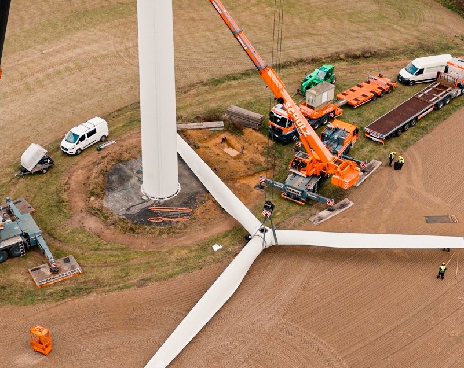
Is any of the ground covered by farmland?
Yes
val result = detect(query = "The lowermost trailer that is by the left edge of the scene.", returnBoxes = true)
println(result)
[12,140,58,174]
